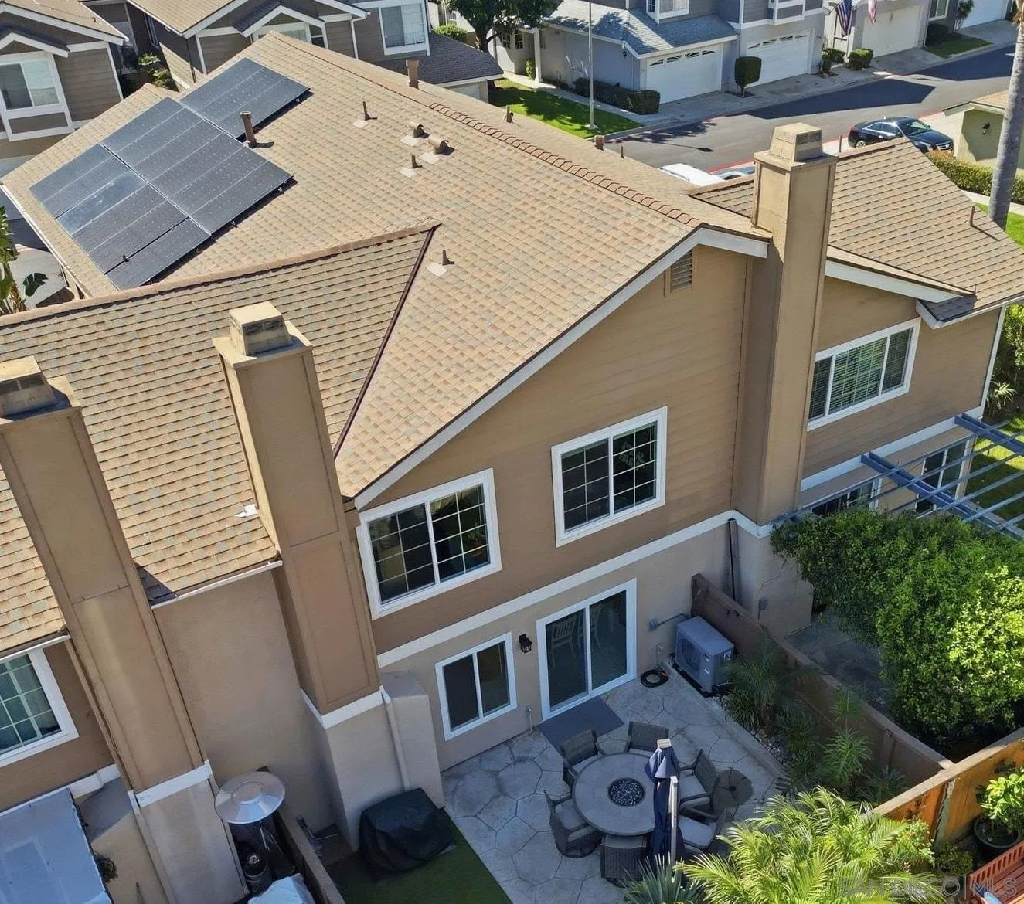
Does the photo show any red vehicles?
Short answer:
No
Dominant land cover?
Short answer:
buildings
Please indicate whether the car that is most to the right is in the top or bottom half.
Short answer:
top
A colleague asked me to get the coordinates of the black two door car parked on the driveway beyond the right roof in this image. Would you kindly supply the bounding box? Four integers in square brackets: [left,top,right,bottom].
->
[838,105,946,152]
